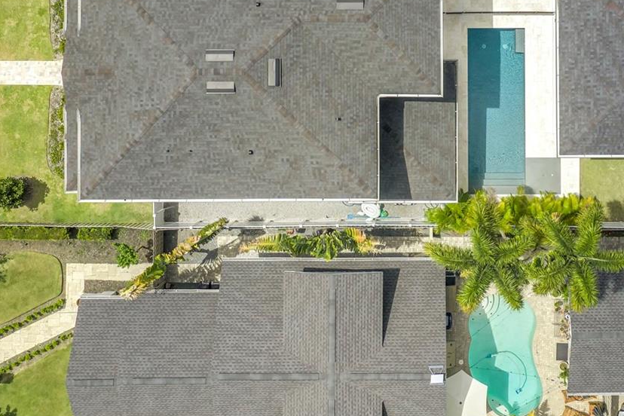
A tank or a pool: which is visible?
pool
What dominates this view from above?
buildings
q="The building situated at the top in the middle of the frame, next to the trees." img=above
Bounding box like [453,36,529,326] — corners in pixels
[62,0,459,204]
